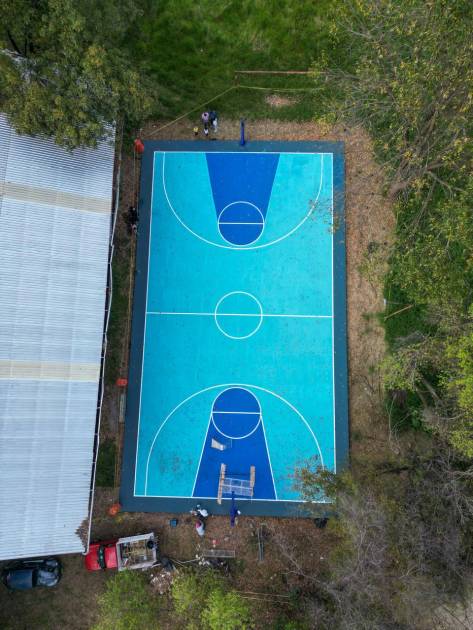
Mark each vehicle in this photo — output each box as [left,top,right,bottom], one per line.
[1,557,63,593]
[81,532,162,575]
